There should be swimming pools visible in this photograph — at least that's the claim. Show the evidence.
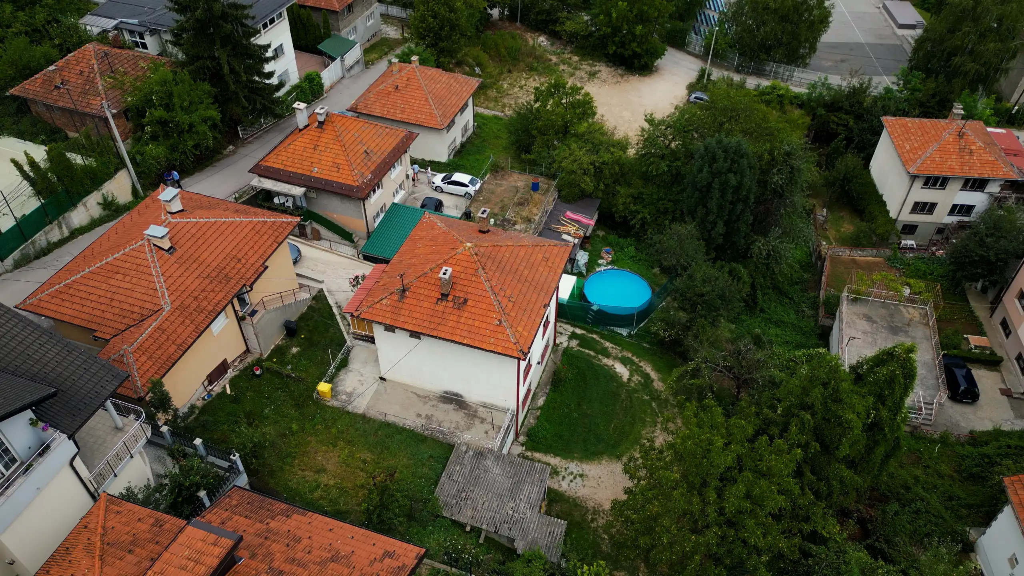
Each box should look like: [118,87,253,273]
[581,270,653,321]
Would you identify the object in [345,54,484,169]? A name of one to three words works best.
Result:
house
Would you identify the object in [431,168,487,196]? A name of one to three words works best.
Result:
car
